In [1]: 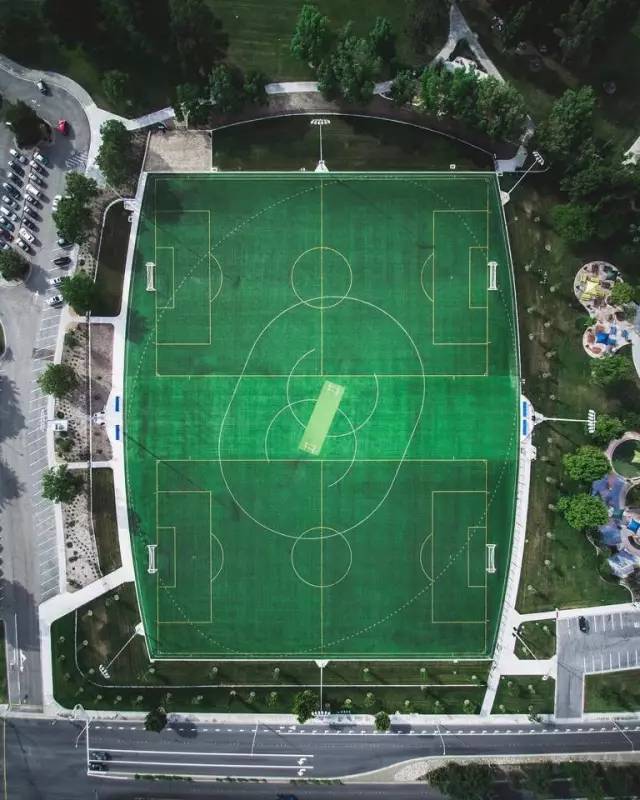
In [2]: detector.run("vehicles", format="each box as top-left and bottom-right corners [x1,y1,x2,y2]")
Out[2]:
[7,171,23,186]
[0,227,14,242]
[3,195,20,210]
[24,182,42,198]
[23,204,39,219]
[577,615,588,633]
[90,762,106,771]
[0,216,16,230]
[56,240,72,248]
[28,171,45,186]
[3,182,23,199]
[18,227,36,244]
[46,294,64,305]
[24,194,41,209]
[30,160,46,174]
[22,216,37,230]
[91,750,109,759]
[54,256,72,266]
[8,161,25,177]
[52,193,63,210]
[10,150,29,167]
[32,150,49,166]
[59,120,67,136]
[16,238,31,253]
[0,204,20,221]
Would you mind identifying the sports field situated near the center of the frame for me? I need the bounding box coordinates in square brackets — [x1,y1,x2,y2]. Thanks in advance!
[123,173,520,659]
